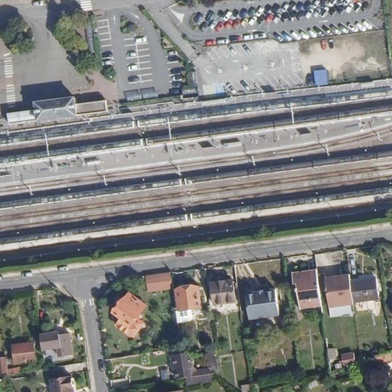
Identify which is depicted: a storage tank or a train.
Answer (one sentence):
The image shows a train.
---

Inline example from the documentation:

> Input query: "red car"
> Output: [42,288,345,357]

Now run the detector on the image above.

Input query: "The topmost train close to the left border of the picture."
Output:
[0,121,136,146]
